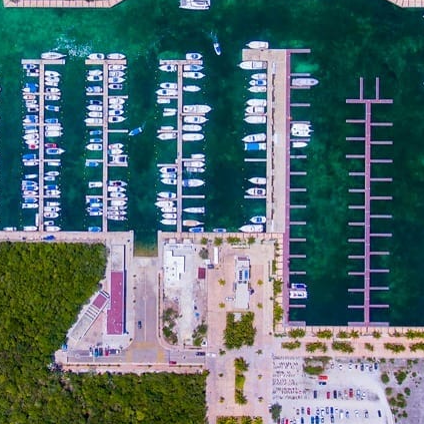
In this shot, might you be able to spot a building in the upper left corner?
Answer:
No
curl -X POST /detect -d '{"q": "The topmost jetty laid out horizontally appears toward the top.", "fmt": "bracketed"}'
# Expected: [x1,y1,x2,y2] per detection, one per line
[242,50,267,62]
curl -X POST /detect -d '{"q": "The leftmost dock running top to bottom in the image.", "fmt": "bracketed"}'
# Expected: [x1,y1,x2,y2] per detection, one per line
[22,59,66,232]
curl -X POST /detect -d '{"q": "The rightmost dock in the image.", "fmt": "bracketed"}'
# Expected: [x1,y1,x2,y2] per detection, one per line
[346,78,393,326]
